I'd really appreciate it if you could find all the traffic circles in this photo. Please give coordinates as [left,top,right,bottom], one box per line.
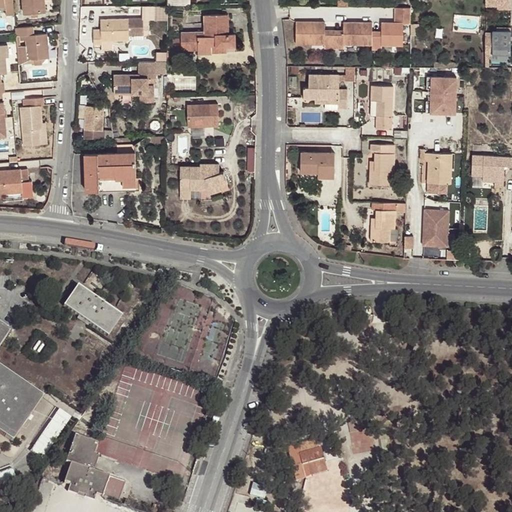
[254,250,304,301]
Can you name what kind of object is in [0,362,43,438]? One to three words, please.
building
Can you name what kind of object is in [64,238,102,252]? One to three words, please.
vehicle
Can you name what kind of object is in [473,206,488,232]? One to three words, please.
swimming pool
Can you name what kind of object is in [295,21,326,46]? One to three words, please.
house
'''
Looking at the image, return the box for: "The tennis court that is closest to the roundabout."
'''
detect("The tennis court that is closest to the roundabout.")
[138,285,232,379]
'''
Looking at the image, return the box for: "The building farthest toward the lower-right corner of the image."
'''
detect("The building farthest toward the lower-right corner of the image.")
[288,439,328,480]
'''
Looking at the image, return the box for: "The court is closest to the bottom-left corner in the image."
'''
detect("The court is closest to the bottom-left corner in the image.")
[97,366,204,476]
